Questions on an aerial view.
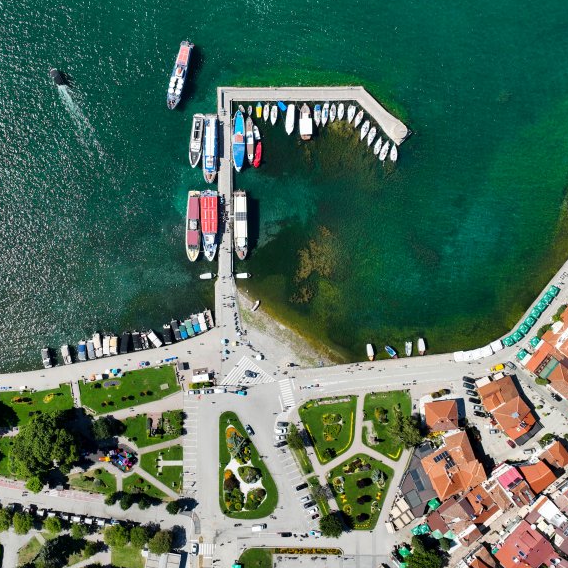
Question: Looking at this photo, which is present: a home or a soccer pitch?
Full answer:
Visible in the photo is a home.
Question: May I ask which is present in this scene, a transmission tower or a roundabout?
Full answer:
The one in the frame is a roundabout.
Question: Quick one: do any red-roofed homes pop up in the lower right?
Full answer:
Yes, you'll find a red-roofed home in the lower right.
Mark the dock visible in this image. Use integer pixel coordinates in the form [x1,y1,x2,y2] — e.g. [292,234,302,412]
[216,86,411,278]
